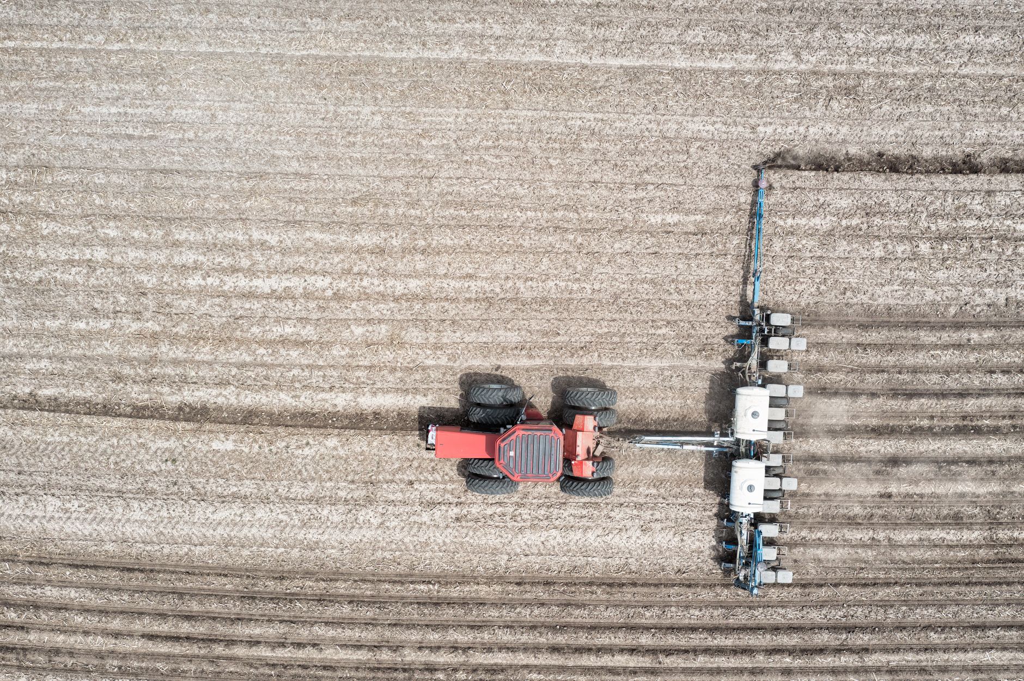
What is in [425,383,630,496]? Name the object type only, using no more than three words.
work vehicle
